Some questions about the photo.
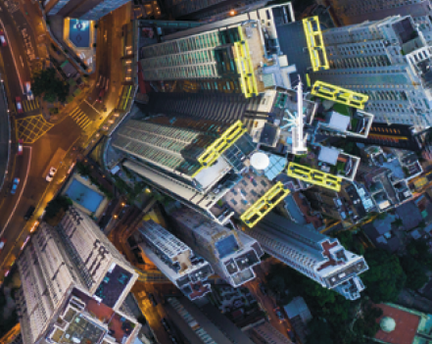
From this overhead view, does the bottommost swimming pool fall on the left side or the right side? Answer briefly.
left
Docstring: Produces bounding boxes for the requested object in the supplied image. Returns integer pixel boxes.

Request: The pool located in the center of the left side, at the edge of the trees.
[64,177,102,213]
